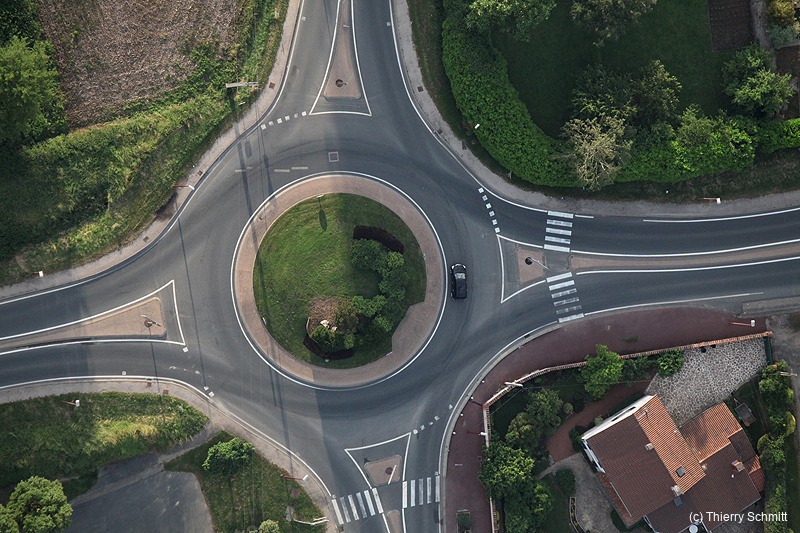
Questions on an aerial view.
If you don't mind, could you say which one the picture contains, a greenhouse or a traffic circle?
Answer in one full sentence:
Visible in the photo is a traffic circle.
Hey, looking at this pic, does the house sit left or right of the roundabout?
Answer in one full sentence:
The house can be seen on the right of the roundabout.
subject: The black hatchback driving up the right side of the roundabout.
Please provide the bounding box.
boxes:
[452,264,470,299]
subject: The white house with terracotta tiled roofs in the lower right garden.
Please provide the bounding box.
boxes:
[584,393,764,533]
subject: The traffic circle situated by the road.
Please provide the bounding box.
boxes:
[172,111,505,450]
